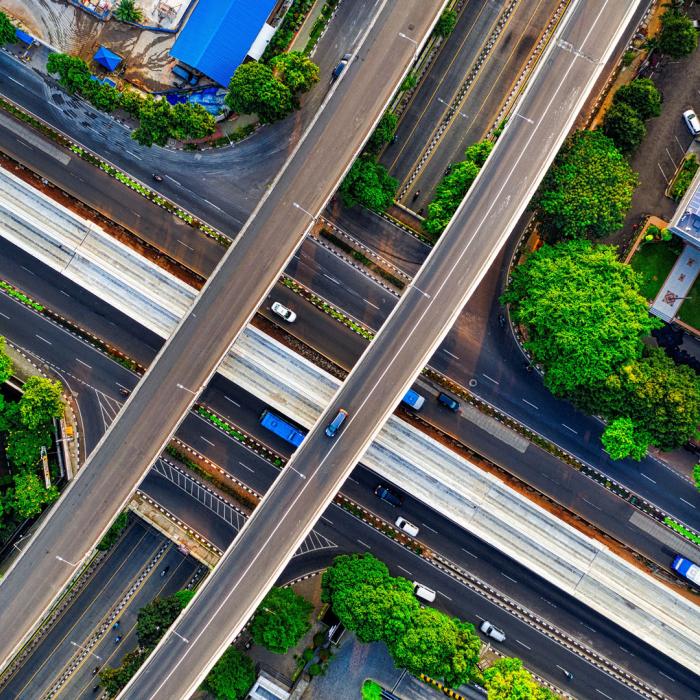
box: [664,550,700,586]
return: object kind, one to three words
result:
bus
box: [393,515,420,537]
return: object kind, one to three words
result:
car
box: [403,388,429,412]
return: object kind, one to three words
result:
bus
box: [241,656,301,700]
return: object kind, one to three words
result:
house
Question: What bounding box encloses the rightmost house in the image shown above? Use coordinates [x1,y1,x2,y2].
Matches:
[662,174,700,255]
